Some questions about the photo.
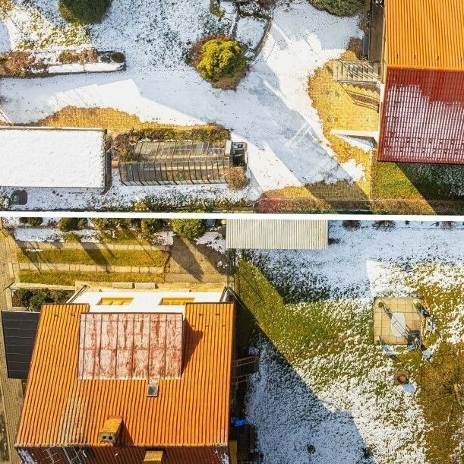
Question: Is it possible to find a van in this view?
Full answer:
No, I find no van anywhere in the image.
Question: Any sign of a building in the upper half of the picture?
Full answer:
Yes, I can see a building in the upper half of the picture.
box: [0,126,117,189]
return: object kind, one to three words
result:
building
